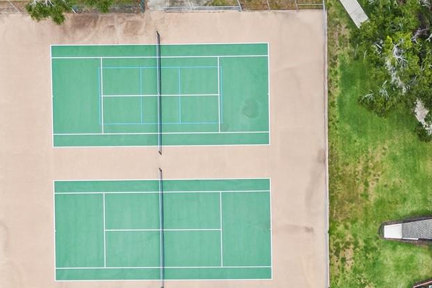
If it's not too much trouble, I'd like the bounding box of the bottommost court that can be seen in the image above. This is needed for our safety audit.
[54,168,272,288]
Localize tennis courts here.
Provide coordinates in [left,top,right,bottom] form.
[50,32,270,154]
[54,168,272,288]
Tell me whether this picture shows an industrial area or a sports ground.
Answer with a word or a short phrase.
sports ground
